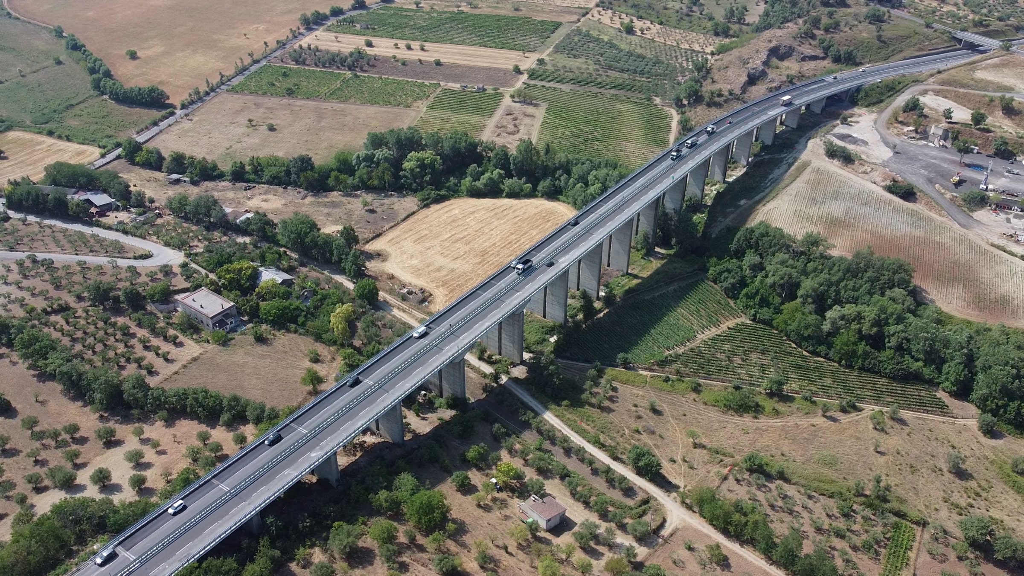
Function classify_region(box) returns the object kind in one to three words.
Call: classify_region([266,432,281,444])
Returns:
vehicle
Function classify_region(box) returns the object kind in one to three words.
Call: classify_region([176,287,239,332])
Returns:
house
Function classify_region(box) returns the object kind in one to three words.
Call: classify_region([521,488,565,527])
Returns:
house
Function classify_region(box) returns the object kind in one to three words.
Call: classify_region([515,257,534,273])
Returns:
vehicle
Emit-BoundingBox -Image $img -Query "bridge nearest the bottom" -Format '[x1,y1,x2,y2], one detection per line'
[96,75,870,576]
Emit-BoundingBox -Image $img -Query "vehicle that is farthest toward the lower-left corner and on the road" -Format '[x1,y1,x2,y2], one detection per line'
[95,548,116,565]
